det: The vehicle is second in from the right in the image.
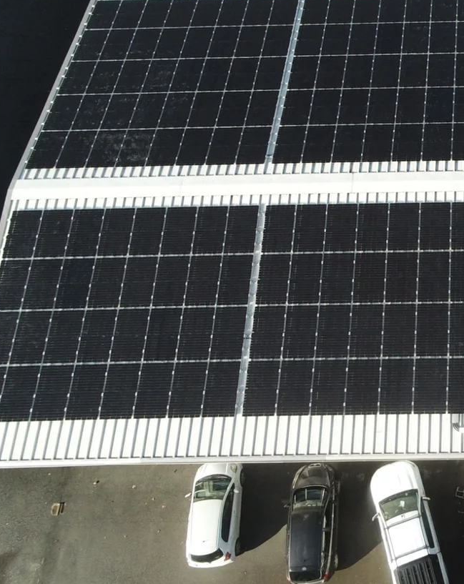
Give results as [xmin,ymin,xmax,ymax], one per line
[284,461,342,584]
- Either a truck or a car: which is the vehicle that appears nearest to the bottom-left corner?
car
